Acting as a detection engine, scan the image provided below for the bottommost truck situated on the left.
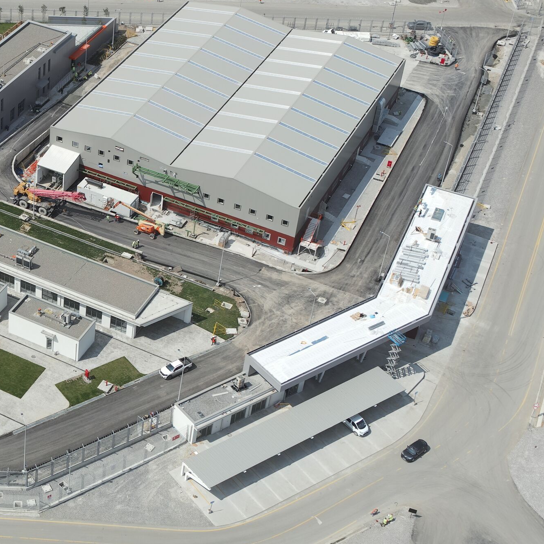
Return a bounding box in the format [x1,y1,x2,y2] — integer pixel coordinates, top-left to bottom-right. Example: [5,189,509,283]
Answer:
[158,355,195,379]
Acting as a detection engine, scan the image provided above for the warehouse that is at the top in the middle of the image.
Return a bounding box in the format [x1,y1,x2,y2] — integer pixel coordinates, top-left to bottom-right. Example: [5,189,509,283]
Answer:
[50,0,407,251]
